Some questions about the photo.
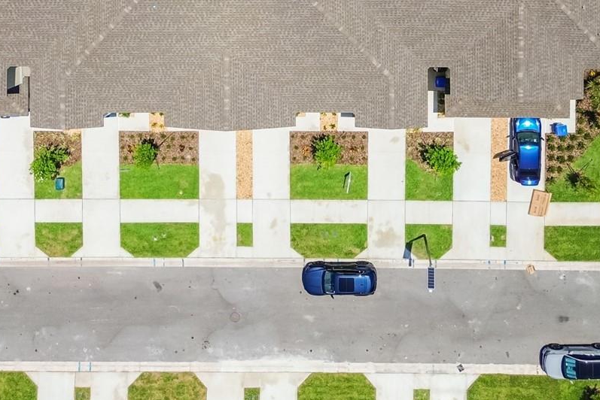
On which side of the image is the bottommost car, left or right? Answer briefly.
right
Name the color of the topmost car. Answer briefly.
blue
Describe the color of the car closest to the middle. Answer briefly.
blue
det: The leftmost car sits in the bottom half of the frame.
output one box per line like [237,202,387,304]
[304,262,376,301]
